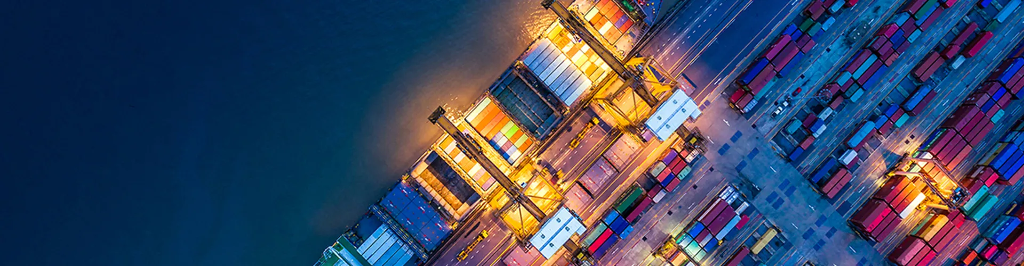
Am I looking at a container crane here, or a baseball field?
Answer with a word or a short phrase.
container crane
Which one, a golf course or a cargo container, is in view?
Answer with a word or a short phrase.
cargo container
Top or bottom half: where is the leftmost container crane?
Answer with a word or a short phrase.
bottom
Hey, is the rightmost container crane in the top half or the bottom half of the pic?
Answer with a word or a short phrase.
bottom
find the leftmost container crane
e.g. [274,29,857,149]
[431,104,595,266]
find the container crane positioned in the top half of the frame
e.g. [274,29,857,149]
[543,0,707,156]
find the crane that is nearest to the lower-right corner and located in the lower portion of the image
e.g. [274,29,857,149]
[890,152,970,211]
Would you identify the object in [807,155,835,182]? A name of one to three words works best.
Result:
shipping container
